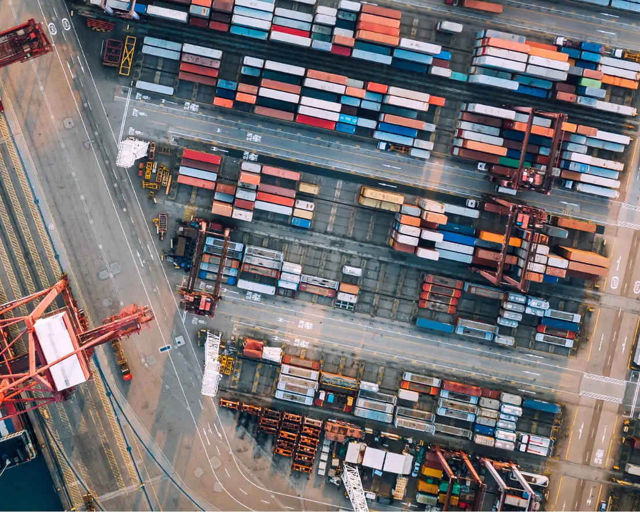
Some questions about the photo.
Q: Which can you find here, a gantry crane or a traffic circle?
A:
gantry crane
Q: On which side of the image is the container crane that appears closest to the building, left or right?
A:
right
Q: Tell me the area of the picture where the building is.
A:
bottom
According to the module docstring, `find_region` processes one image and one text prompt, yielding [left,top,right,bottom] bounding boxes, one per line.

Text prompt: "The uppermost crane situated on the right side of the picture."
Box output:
[487,108,567,203]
